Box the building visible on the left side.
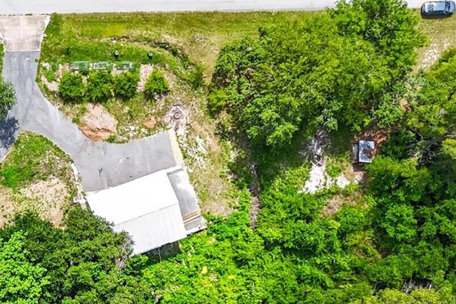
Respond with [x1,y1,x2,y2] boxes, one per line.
[86,168,187,252]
